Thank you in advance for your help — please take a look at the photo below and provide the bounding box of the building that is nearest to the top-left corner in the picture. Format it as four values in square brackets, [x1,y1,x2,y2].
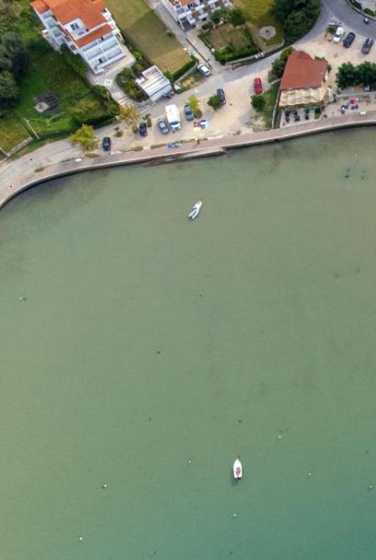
[23,0,126,73]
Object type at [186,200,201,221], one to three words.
boat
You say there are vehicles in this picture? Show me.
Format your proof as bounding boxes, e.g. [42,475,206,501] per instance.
[101,137,112,153]
[362,38,374,54]
[331,26,344,41]
[217,88,227,104]
[138,122,148,138]
[197,62,211,77]
[253,78,264,93]
[344,33,355,48]
[165,102,182,132]
[157,120,169,137]
[183,104,191,122]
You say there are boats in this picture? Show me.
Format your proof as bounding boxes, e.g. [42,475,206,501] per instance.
[232,458,242,482]
[186,200,201,221]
